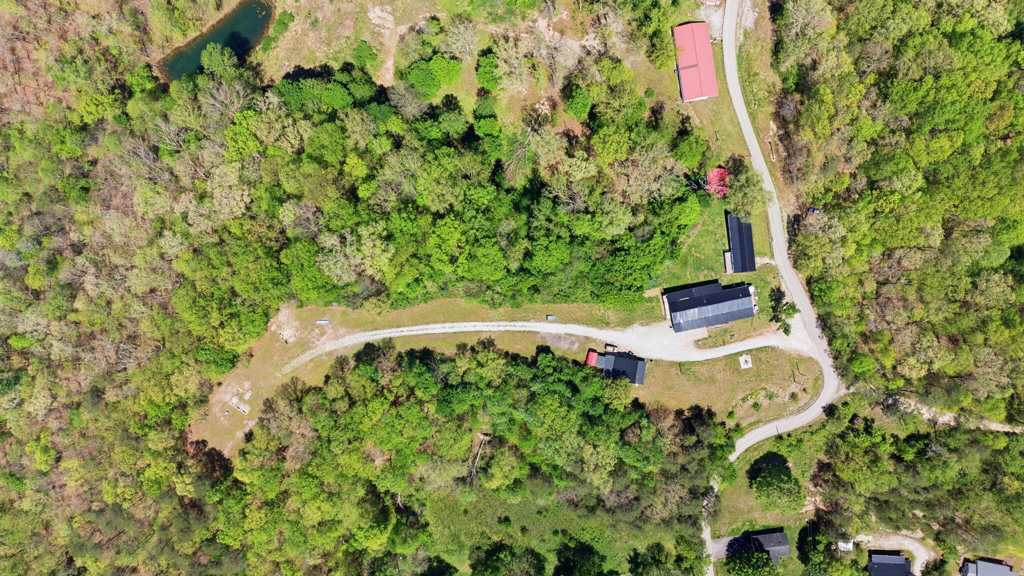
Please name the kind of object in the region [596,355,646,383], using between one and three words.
building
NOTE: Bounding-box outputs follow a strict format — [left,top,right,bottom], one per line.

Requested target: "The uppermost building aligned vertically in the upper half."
[673,21,717,100]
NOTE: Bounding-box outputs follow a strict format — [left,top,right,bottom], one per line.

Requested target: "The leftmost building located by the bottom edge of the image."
[749,531,790,564]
